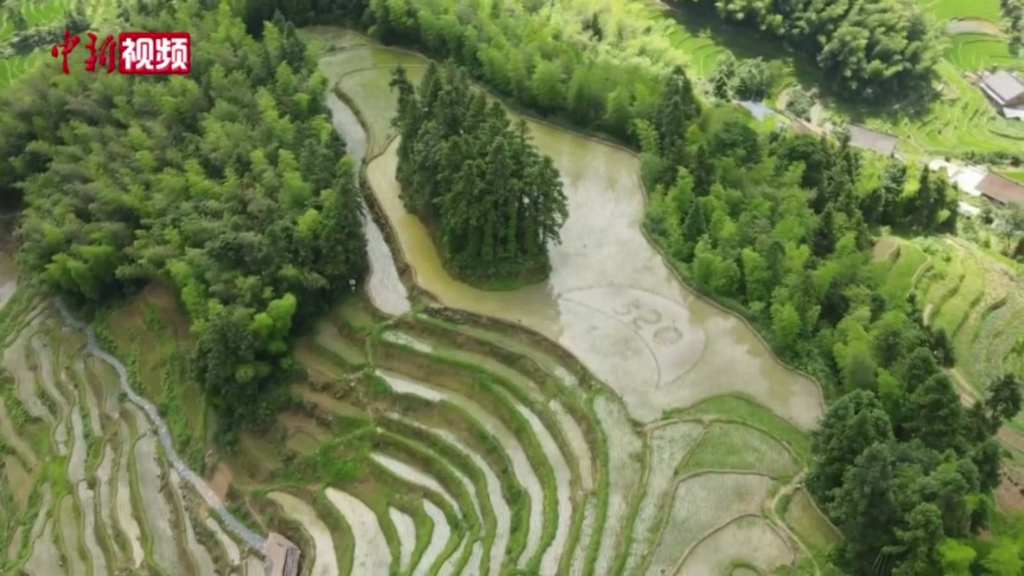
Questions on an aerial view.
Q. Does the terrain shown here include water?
Yes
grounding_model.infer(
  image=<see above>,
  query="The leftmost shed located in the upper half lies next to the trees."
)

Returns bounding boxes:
[747,100,791,121]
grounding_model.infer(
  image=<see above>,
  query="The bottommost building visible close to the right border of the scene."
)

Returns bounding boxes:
[977,173,1024,226]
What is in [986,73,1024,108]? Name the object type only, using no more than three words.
house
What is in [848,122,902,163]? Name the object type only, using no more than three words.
house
